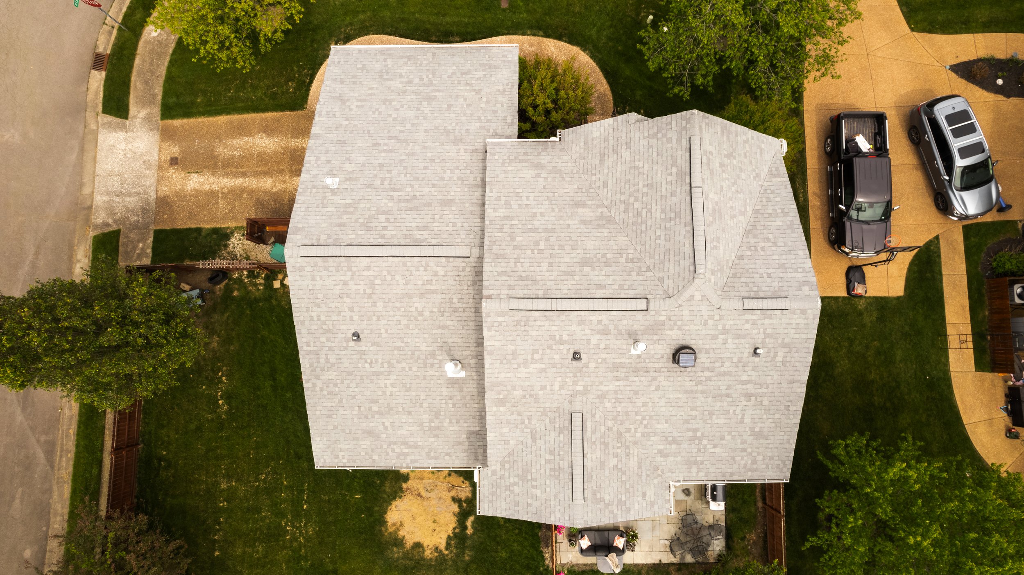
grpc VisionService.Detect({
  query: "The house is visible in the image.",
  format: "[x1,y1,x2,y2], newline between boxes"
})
[285,43,821,526]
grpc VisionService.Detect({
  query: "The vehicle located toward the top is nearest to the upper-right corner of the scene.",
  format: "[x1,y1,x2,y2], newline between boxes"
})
[908,97,996,221]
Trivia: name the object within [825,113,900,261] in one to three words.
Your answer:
truck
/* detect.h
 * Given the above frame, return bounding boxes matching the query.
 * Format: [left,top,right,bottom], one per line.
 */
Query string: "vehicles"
[825,113,900,261]
[908,97,996,221]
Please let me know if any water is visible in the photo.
No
